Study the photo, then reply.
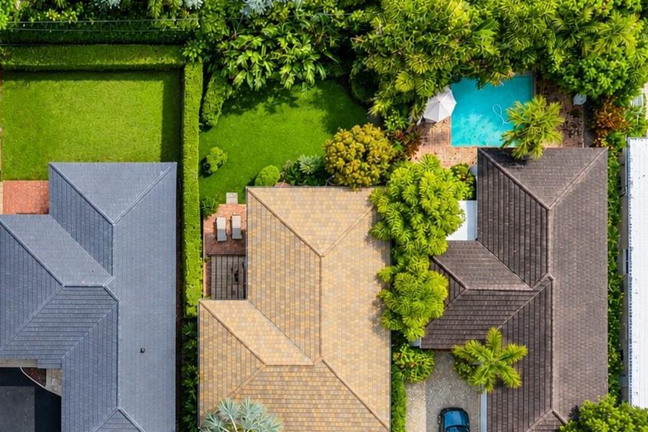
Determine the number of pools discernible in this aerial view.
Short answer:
1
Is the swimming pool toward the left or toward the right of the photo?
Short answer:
right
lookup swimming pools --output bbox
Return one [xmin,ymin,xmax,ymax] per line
[450,72,535,148]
